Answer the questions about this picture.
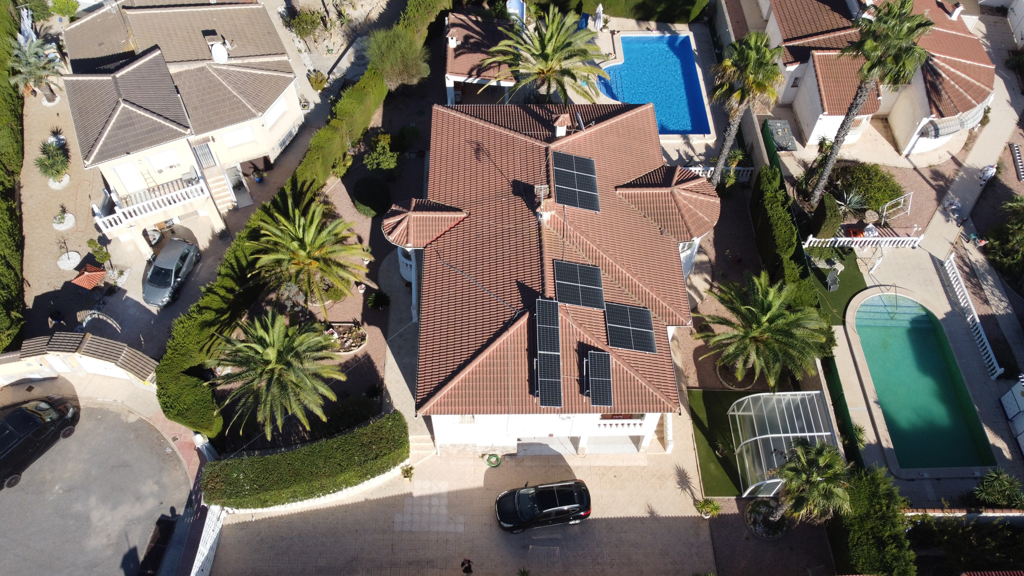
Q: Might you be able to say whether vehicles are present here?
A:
Yes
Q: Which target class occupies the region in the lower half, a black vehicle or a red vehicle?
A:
black vehicle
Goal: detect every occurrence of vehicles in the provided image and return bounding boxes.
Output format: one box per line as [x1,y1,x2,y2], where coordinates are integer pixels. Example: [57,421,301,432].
[494,481,593,536]
[0,409,79,498]
[142,240,200,306]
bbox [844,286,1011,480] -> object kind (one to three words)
swimming pool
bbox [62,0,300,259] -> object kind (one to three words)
house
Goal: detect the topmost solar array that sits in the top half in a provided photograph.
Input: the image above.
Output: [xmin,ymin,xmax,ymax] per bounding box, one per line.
[552,151,600,213]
